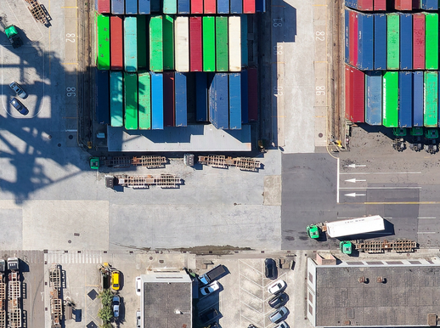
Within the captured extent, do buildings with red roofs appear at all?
No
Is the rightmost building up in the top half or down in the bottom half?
bottom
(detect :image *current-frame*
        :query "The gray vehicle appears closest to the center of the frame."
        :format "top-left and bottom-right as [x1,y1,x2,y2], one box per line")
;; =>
[182,154,253,168]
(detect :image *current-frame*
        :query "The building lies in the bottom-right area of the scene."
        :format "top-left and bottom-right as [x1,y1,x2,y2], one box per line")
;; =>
[305,246,440,326]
